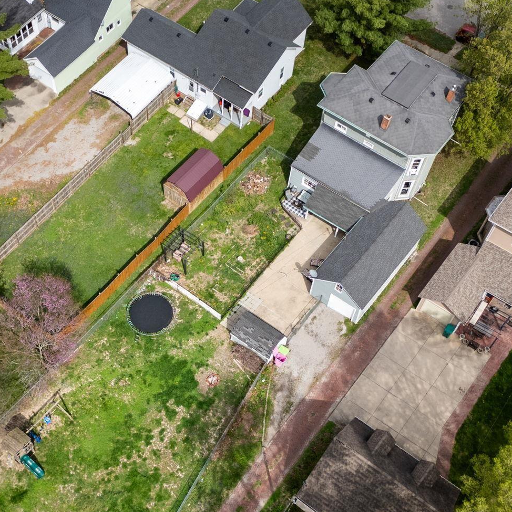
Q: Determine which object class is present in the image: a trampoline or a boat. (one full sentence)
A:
Of the two, only a trampoline appears.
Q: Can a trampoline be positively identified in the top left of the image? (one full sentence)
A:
No, in the top left of the image there is no trampoline.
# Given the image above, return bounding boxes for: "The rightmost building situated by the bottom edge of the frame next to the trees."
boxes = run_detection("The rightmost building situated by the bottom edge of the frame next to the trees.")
[294,417,459,512]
